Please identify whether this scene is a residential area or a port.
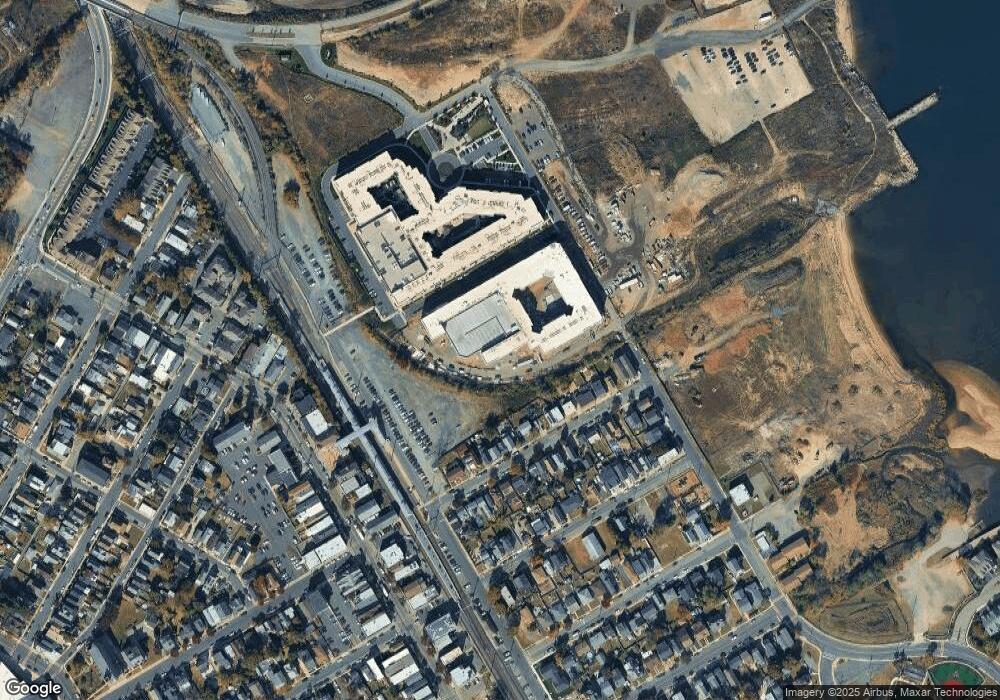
residential area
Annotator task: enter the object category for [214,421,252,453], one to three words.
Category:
building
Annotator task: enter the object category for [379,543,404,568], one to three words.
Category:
building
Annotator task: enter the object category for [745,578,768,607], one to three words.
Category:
house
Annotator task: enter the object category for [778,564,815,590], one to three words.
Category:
house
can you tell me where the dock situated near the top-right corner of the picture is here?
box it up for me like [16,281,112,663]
[882,94,939,131]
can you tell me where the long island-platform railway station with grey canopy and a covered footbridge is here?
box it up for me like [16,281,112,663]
[293,324,463,607]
